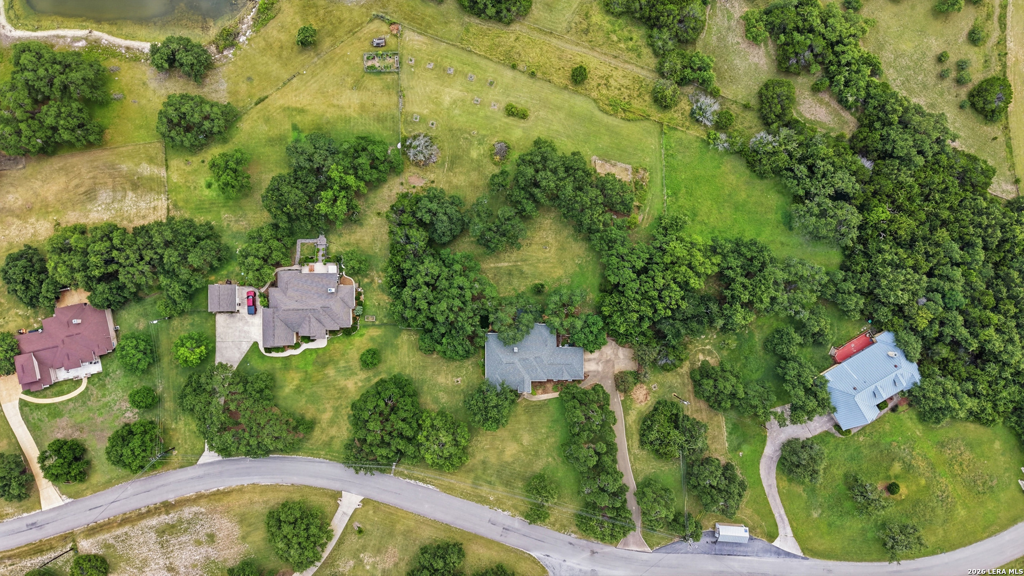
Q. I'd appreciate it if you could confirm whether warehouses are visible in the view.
No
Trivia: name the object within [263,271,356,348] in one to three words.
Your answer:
house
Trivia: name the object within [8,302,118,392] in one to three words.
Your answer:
house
